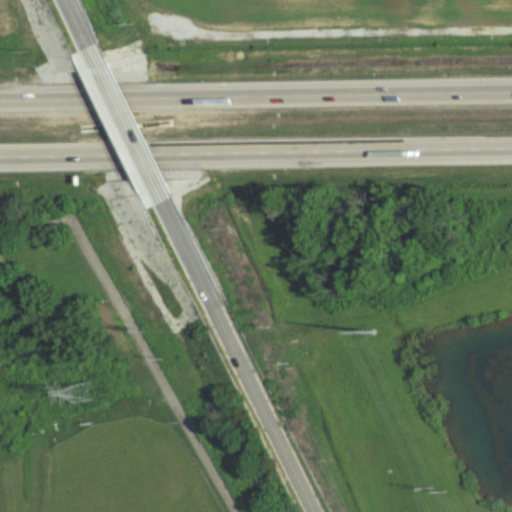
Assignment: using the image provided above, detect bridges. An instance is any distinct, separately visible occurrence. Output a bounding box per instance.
[69,42,172,210]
